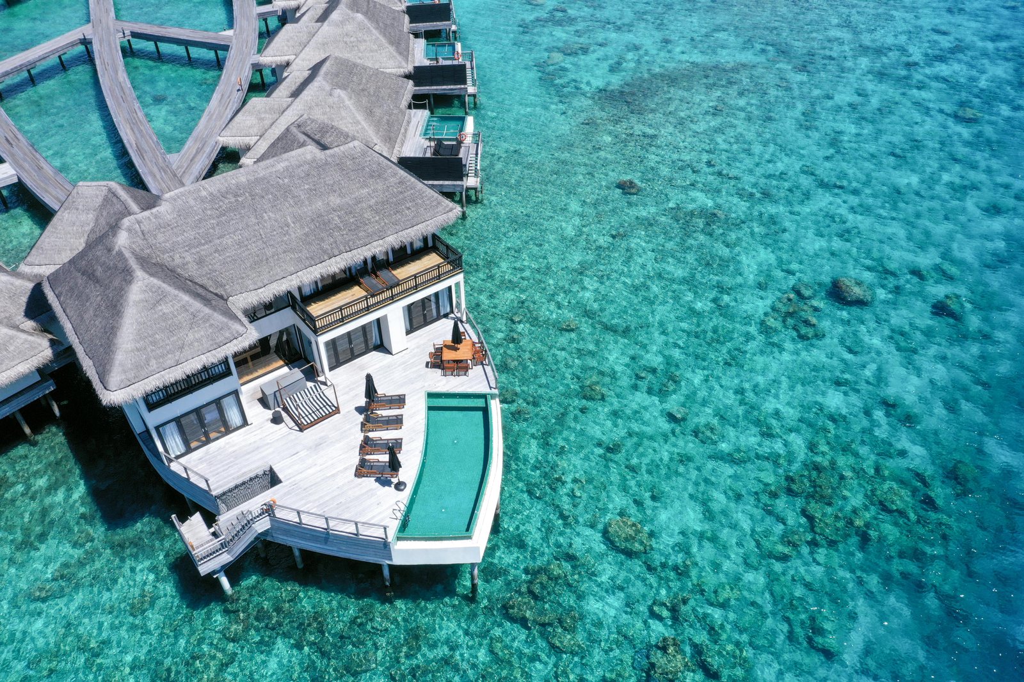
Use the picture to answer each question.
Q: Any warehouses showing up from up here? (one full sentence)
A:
No, there appears to be no warehouse in this shot.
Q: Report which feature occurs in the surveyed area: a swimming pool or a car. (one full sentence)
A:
The one in the frame is a swimming pool.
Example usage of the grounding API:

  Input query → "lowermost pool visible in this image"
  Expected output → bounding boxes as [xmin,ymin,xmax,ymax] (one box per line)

[392,391,504,604]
